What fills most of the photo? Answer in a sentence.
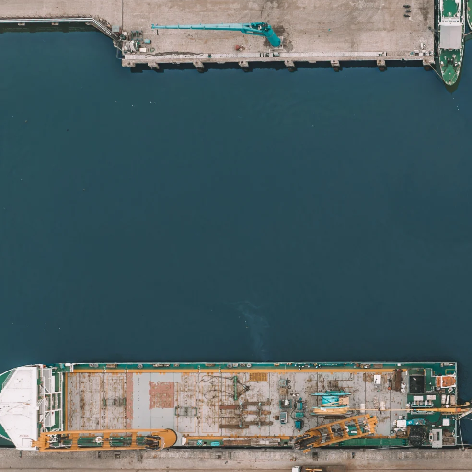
The bulk of the photo consists of water.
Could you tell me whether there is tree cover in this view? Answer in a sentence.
No, no tree cover is visible.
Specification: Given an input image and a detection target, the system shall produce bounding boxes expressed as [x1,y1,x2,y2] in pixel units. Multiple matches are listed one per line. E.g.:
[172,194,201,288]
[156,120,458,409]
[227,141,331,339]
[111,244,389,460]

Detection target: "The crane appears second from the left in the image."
[151,19,283,52]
